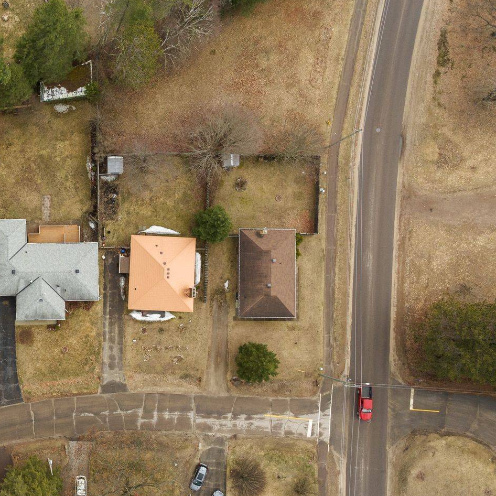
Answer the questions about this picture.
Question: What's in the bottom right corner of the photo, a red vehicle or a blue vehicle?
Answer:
red vehicle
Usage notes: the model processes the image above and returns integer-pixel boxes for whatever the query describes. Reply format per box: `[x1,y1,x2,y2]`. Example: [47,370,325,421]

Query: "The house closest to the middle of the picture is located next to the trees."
[237,229,297,318]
